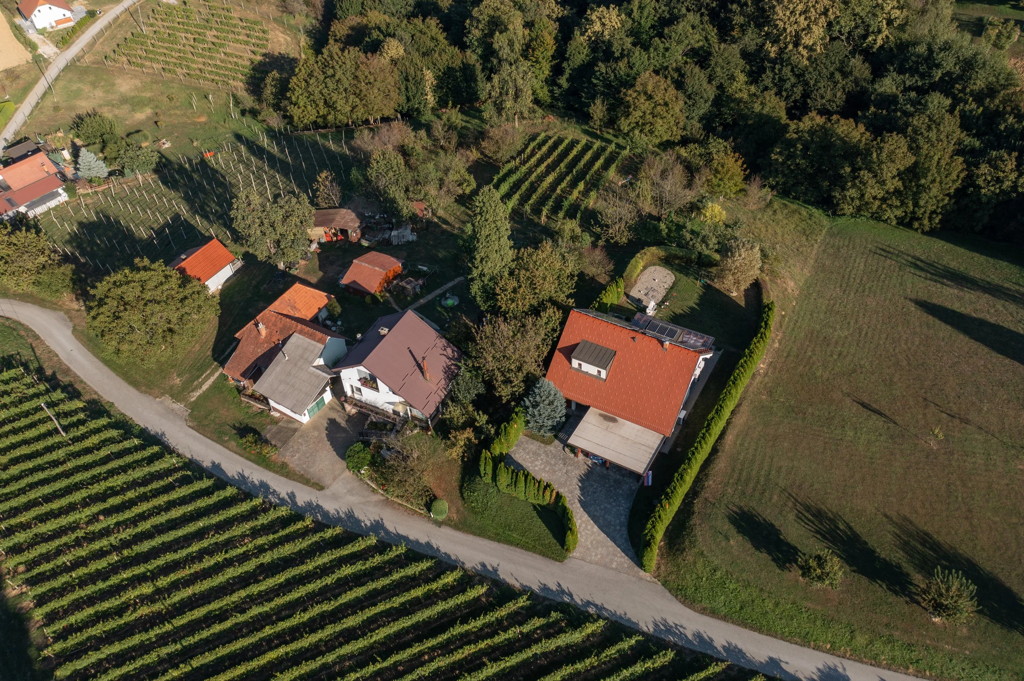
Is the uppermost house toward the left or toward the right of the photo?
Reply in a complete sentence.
The uppermost house is on the left side of the image.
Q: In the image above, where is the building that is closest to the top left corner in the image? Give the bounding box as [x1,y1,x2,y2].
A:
[25,0,75,28]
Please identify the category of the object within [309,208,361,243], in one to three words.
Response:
shed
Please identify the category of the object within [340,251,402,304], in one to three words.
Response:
shed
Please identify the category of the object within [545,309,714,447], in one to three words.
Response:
house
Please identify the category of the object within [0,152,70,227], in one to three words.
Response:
house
